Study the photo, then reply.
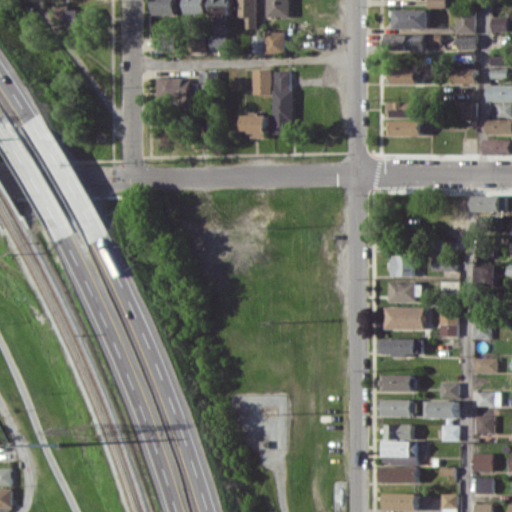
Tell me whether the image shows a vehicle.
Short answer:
Yes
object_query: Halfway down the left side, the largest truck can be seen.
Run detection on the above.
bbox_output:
[98,240,122,280]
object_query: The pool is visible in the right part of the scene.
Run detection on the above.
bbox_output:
[476,342,491,356]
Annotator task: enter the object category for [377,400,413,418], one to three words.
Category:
house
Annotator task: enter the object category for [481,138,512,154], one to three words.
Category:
house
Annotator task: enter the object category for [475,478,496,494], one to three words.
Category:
building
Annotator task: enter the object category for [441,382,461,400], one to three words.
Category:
building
